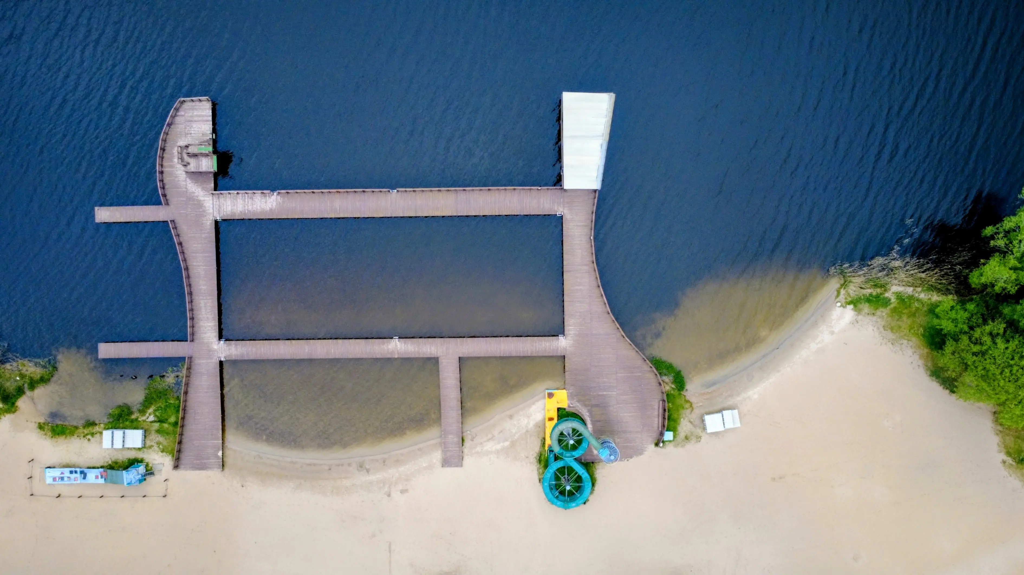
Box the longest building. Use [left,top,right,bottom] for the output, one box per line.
[561,91,615,190]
